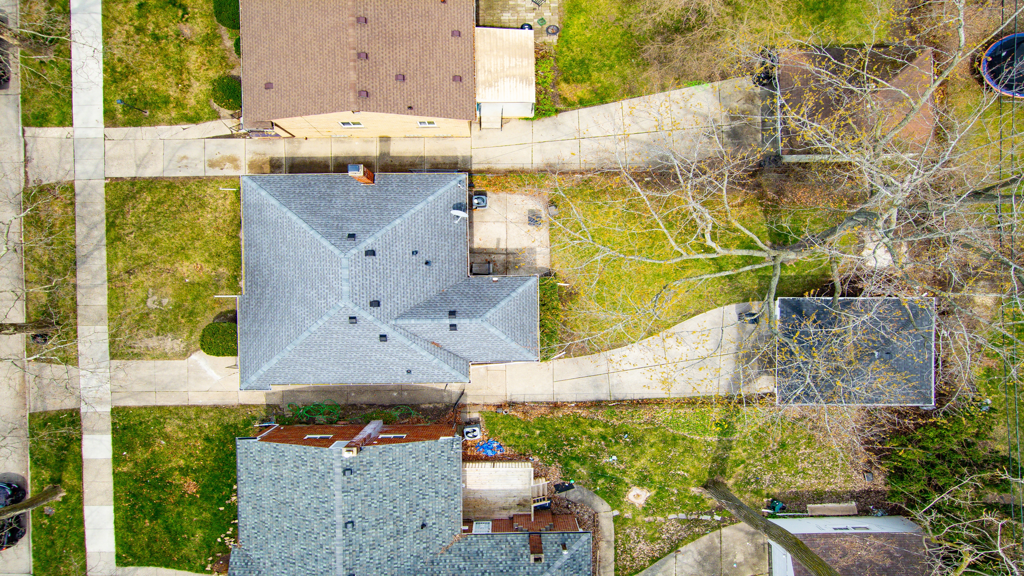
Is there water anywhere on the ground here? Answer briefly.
No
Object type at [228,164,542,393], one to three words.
house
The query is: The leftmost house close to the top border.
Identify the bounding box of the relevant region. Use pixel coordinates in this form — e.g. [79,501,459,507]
[230,0,480,140]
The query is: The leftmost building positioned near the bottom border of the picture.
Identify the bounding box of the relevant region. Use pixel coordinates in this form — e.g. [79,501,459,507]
[230,419,595,576]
